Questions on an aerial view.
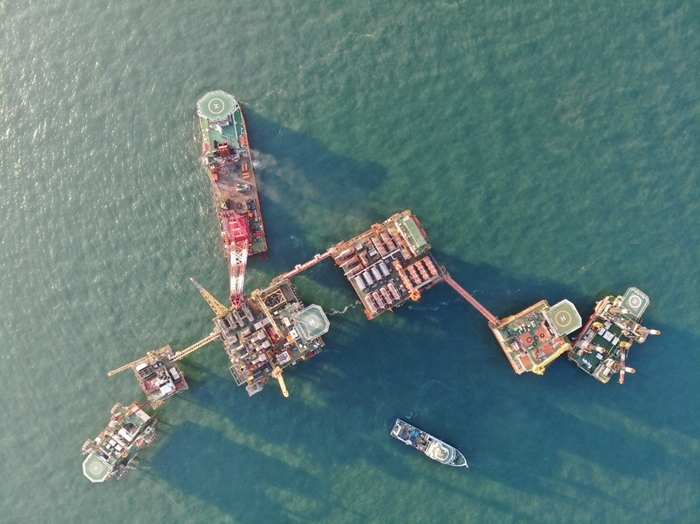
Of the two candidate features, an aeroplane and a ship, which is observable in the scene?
ship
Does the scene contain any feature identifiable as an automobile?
No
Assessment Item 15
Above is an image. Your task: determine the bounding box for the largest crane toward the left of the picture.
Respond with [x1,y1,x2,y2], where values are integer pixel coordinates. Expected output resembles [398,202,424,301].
[225,211,252,308]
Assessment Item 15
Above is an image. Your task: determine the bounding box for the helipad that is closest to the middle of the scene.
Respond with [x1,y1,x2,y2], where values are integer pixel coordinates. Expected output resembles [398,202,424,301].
[295,304,329,341]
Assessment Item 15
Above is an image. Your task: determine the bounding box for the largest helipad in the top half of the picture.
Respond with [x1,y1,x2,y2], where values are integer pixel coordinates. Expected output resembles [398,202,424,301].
[196,89,234,120]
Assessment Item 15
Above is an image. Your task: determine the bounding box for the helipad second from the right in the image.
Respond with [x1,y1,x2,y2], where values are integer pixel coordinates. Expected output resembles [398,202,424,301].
[542,299,582,337]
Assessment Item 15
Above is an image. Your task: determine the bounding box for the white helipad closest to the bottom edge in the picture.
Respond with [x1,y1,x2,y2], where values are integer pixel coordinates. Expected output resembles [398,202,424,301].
[82,452,112,482]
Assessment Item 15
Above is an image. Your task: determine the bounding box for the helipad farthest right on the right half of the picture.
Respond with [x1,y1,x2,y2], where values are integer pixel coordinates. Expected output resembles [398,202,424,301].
[620,288,650,320]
